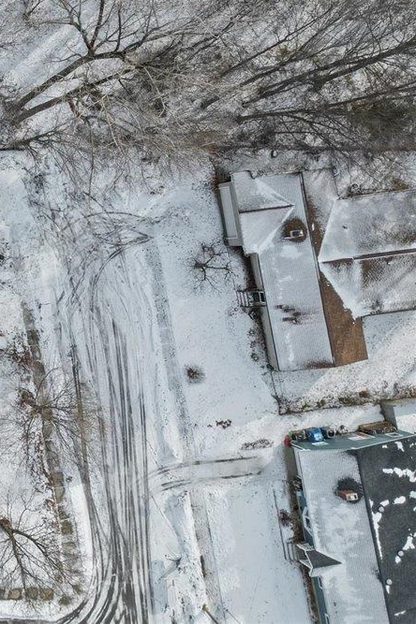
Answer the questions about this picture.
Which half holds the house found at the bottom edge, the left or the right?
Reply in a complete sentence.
The house found at the bottom edge appears in the right half of the scene.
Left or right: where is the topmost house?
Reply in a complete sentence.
You can find the topmost house on the right side of the picture.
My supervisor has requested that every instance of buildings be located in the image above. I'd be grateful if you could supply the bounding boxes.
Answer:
[205,168,416,371]
[283,427,416,624]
